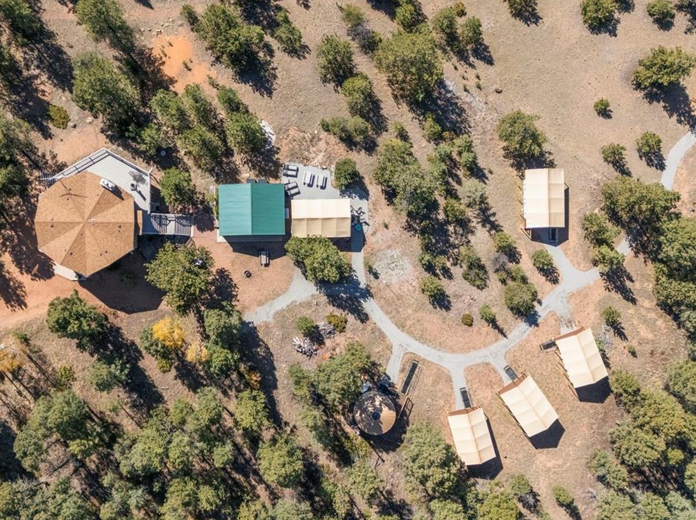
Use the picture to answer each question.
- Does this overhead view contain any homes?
Yes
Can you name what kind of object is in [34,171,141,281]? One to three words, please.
house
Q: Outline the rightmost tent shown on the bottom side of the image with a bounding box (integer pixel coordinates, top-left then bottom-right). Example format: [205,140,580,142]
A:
[539,327,608,389]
